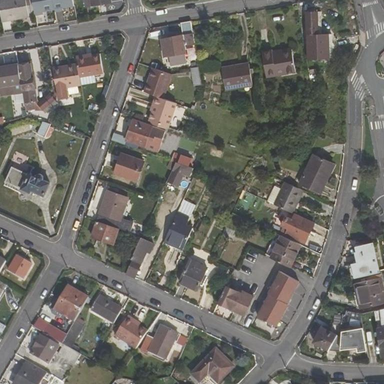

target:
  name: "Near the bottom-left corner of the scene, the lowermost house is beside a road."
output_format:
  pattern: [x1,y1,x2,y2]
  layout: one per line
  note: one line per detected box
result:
[10,358,48,384]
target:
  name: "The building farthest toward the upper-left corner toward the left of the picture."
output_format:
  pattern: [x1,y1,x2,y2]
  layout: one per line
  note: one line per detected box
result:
[0,0,28,22]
